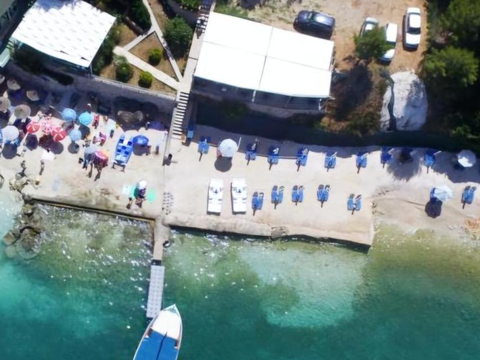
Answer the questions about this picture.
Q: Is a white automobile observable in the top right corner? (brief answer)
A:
Yes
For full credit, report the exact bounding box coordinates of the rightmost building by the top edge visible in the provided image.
[193,10,335,114]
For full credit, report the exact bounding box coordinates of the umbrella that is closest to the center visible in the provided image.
[218,139,236,158]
